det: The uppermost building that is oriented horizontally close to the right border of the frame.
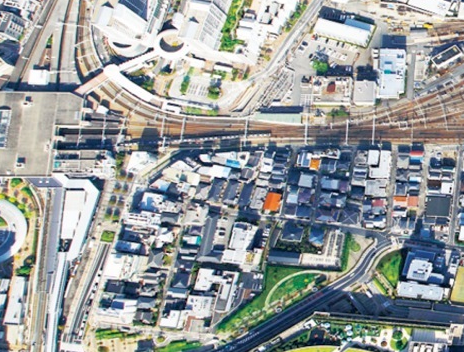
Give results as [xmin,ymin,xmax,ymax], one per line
[406,0,450,19]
